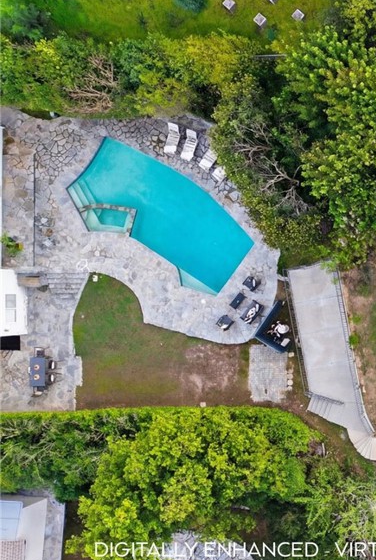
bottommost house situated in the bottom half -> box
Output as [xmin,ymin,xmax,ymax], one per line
[0,498,49,560]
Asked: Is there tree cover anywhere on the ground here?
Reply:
Yes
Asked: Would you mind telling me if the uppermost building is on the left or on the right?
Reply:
left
